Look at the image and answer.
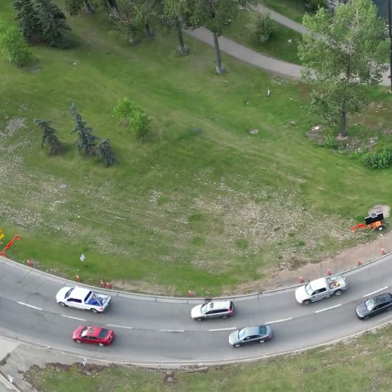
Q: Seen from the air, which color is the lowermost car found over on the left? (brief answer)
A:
red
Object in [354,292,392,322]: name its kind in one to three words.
car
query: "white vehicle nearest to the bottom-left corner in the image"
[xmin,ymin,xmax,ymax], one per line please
[58,288,112,315]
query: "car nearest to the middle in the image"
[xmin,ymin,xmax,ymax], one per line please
[192,300,234,322]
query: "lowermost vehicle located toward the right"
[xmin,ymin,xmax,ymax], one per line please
[230,325,273,349]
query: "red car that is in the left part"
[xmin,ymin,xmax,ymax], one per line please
[72,325,117,348]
